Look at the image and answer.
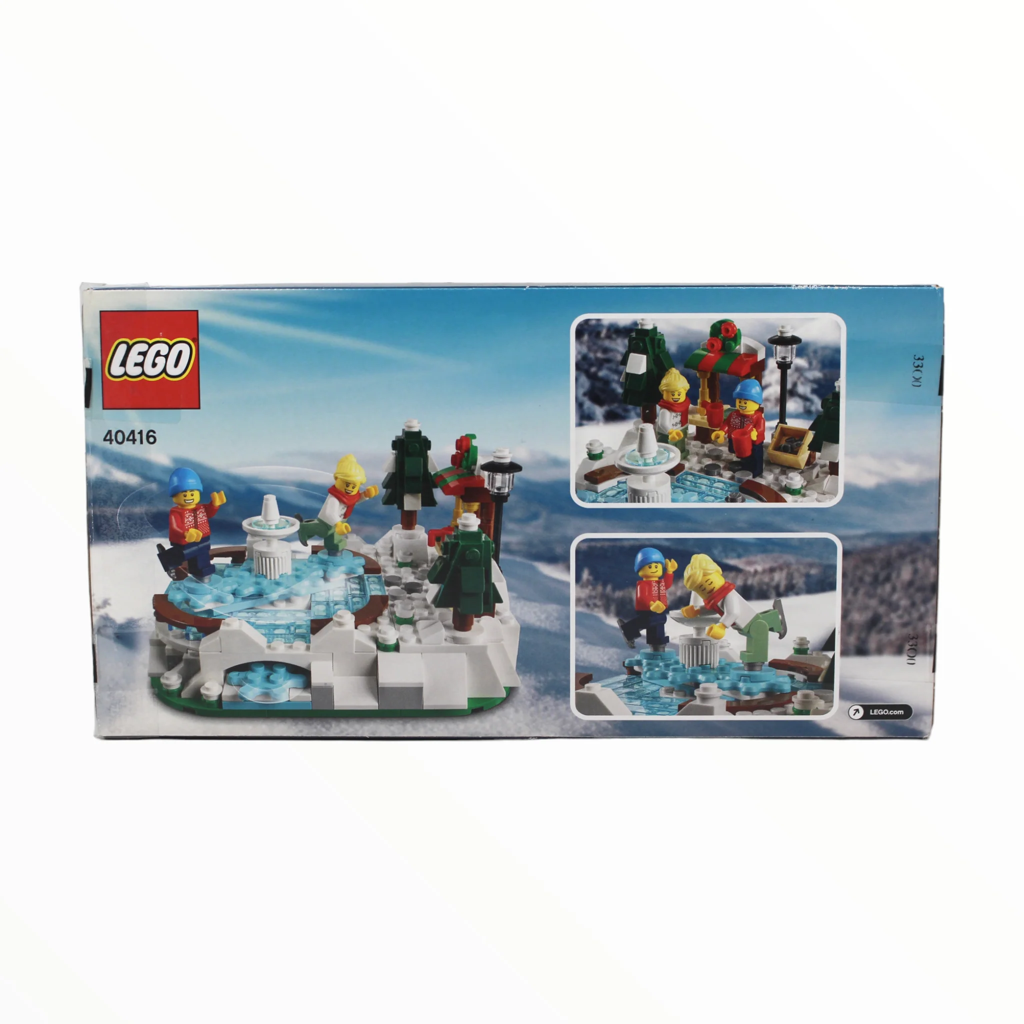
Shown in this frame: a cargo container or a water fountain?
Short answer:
water fountain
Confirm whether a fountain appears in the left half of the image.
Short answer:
Yes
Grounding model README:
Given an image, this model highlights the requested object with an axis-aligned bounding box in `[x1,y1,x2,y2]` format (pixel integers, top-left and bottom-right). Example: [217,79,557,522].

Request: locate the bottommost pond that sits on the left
[165,546,386,709]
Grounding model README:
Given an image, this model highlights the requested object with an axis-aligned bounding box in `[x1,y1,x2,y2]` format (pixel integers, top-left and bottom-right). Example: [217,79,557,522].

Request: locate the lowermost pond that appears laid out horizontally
[606,649,833,716]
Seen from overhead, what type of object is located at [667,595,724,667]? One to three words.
fountain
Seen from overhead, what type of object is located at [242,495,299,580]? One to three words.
fountain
